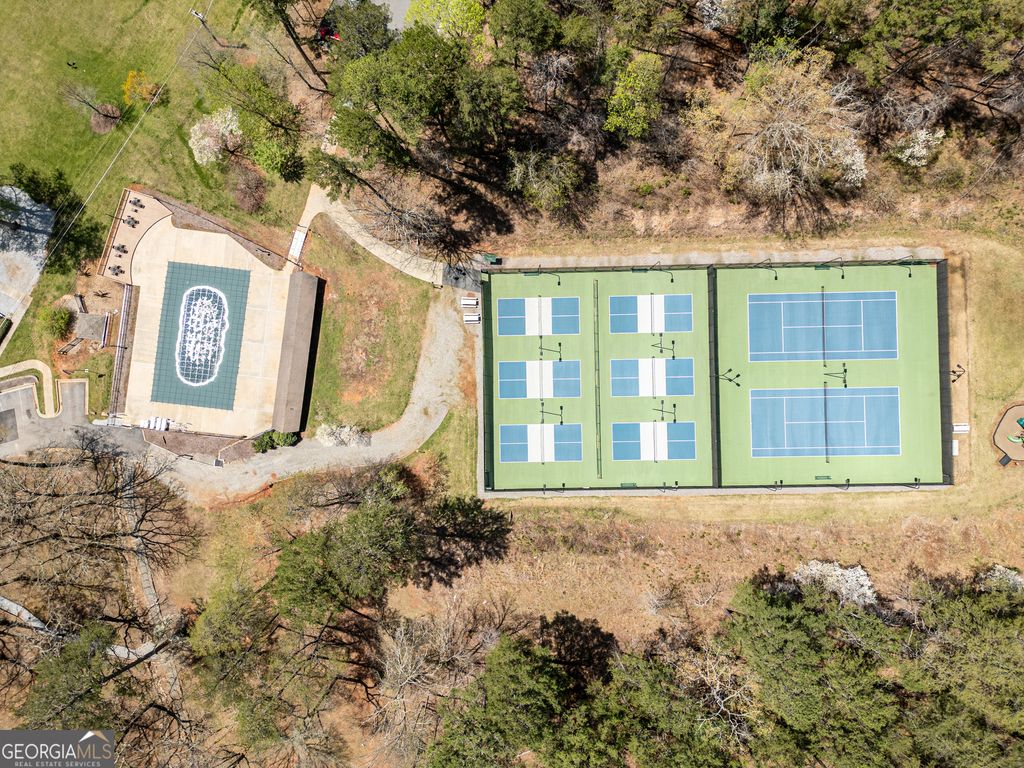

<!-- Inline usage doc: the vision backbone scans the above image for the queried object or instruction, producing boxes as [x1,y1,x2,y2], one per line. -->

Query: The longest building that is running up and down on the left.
[272,271,320,433]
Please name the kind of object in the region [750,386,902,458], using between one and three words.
tennis court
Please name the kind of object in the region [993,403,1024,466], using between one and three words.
playground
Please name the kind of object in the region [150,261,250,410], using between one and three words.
swimming pool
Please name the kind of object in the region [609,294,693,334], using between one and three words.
sports court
